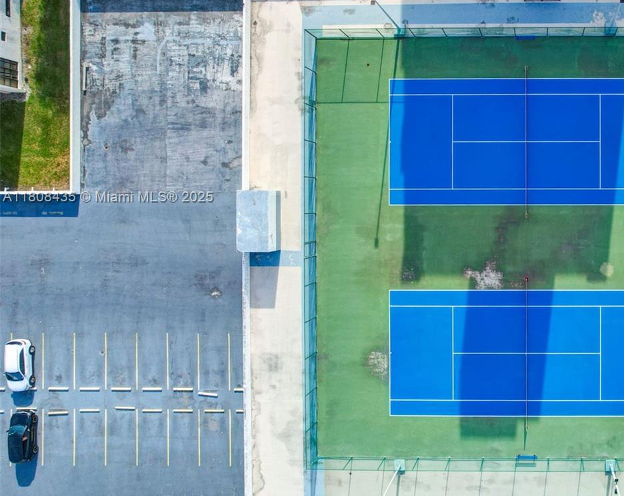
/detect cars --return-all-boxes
[6,411,38,463]
[3,340,34,391]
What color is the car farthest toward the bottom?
black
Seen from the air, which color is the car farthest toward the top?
white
